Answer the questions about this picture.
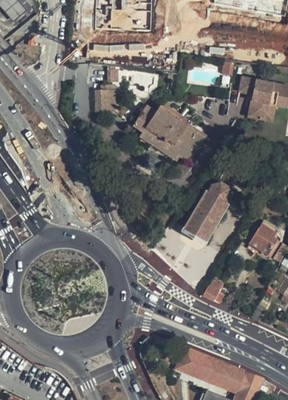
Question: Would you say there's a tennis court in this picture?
No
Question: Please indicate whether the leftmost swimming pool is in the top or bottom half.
top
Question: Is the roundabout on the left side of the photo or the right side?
left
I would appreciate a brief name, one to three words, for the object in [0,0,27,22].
building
